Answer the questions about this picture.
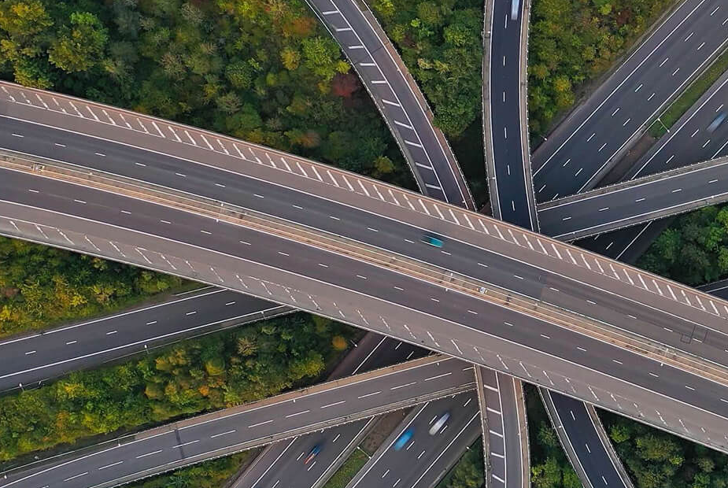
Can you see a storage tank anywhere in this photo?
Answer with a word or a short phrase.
No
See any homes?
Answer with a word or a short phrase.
No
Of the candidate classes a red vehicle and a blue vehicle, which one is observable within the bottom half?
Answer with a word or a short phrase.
blue vehicle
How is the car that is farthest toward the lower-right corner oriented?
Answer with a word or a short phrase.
at an angle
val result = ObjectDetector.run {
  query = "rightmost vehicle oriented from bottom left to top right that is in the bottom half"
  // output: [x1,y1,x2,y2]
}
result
[430,413,450,434]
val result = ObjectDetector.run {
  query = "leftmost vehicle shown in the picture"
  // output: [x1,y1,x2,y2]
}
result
[305,444,322,464]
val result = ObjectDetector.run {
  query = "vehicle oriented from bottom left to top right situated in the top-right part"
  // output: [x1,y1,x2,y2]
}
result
[707,109,728,131]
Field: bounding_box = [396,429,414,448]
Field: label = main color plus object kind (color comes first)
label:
blue car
